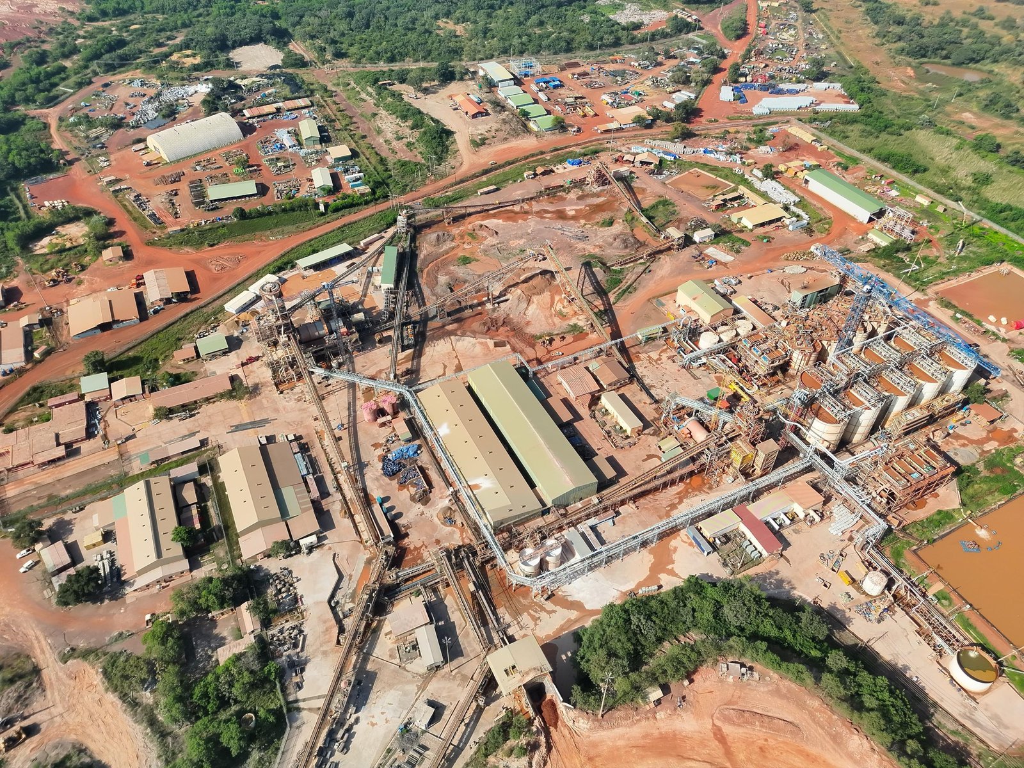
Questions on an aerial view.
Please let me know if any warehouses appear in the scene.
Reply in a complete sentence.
Yes, there is a warehouse in the image.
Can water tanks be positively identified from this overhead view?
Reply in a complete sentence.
Yes, a water tank can be made out from above.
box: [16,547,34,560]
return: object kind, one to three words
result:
vehicle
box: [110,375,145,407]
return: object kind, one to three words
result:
building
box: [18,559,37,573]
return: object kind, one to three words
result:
vehicle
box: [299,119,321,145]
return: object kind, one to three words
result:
house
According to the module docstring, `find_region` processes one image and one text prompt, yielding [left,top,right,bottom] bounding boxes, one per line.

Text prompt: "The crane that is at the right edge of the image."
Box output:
[811,245,1006,372]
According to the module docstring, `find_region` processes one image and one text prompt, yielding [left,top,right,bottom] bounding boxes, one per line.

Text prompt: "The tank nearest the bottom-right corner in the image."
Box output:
[944,641,1006,697]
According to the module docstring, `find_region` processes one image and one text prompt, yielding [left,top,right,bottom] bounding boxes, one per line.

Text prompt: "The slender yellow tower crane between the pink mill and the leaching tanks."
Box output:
[707,357,809,426]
